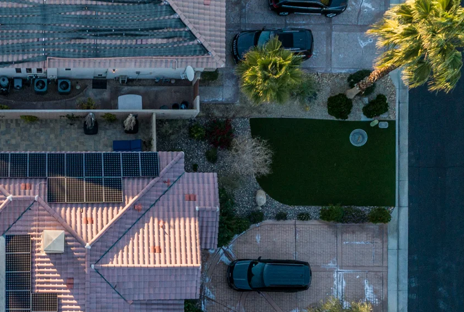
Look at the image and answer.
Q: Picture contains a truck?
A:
No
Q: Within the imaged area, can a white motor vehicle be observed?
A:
No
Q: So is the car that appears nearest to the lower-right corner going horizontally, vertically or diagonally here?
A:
horizontally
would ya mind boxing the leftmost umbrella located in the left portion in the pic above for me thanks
[83,113,98,135]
